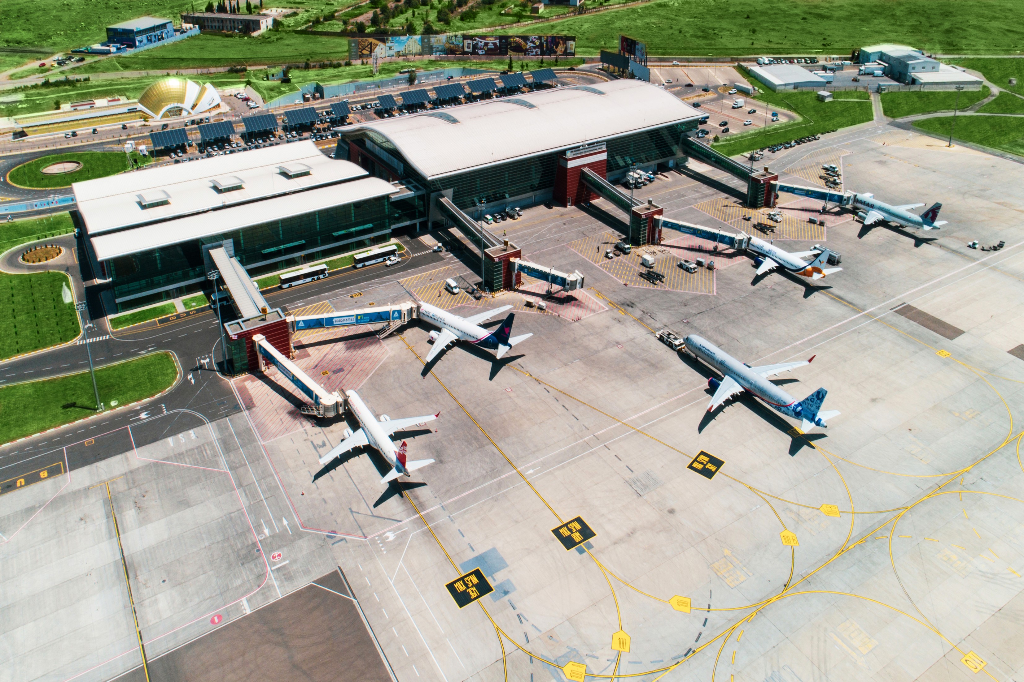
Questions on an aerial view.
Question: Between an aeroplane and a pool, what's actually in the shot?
aeroplane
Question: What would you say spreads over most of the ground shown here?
paved ground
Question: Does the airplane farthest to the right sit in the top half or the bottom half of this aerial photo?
top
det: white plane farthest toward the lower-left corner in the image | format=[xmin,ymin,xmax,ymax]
[316,387,441,486]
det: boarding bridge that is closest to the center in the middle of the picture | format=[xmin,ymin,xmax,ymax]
[511,257,584,299]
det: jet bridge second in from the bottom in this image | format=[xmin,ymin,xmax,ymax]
[287,296,418,355]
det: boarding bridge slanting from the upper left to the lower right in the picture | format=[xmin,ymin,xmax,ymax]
[252,334,350,417]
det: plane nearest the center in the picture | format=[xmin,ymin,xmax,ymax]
[413,299,530,361]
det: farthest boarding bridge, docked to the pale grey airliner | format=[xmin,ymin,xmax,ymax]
[772,180,856,216]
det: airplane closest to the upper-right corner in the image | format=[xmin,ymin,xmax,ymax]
[853,190,949,229]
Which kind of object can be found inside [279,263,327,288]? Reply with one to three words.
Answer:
bus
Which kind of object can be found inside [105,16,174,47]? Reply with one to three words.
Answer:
building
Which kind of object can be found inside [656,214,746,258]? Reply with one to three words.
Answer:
jet bridge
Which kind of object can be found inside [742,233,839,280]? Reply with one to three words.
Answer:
airplane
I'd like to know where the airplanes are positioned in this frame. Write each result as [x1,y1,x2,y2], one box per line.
[853,190,949,229]
[316,387,441,486]
[742,233,839,280]
[681,332,838,431]
[413,299,530,361]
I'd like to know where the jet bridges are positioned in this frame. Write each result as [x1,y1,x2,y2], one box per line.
[287,296,418,355]
[252,334,350,417]
[772,180,856,216]
[511,257,584,299]
[656,214,746,258]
